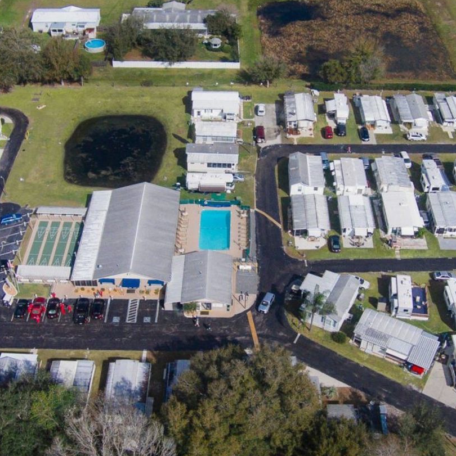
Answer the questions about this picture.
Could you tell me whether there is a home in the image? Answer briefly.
Yes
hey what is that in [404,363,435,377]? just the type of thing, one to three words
vehicle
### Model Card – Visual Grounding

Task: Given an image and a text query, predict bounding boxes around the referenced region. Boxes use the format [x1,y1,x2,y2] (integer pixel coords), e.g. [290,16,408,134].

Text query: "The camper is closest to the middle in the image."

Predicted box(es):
[187,172,233,193]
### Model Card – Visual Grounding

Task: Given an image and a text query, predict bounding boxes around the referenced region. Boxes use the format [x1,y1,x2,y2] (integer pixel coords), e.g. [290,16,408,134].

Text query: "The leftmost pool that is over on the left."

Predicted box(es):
[84,42,107,55]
